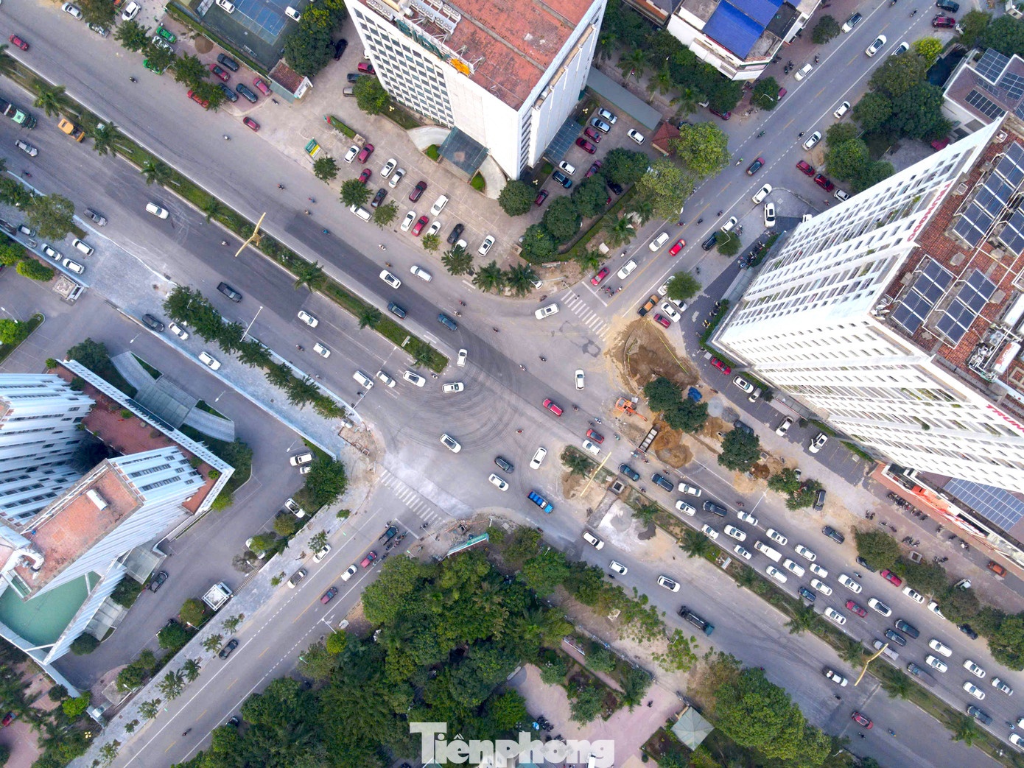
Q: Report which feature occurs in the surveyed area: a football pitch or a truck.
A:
truck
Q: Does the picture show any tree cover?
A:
Yes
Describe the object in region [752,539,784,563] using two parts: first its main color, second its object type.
white vehicle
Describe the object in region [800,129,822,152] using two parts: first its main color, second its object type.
white car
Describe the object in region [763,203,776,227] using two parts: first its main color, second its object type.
white vehicle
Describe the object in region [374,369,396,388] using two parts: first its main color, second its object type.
white car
